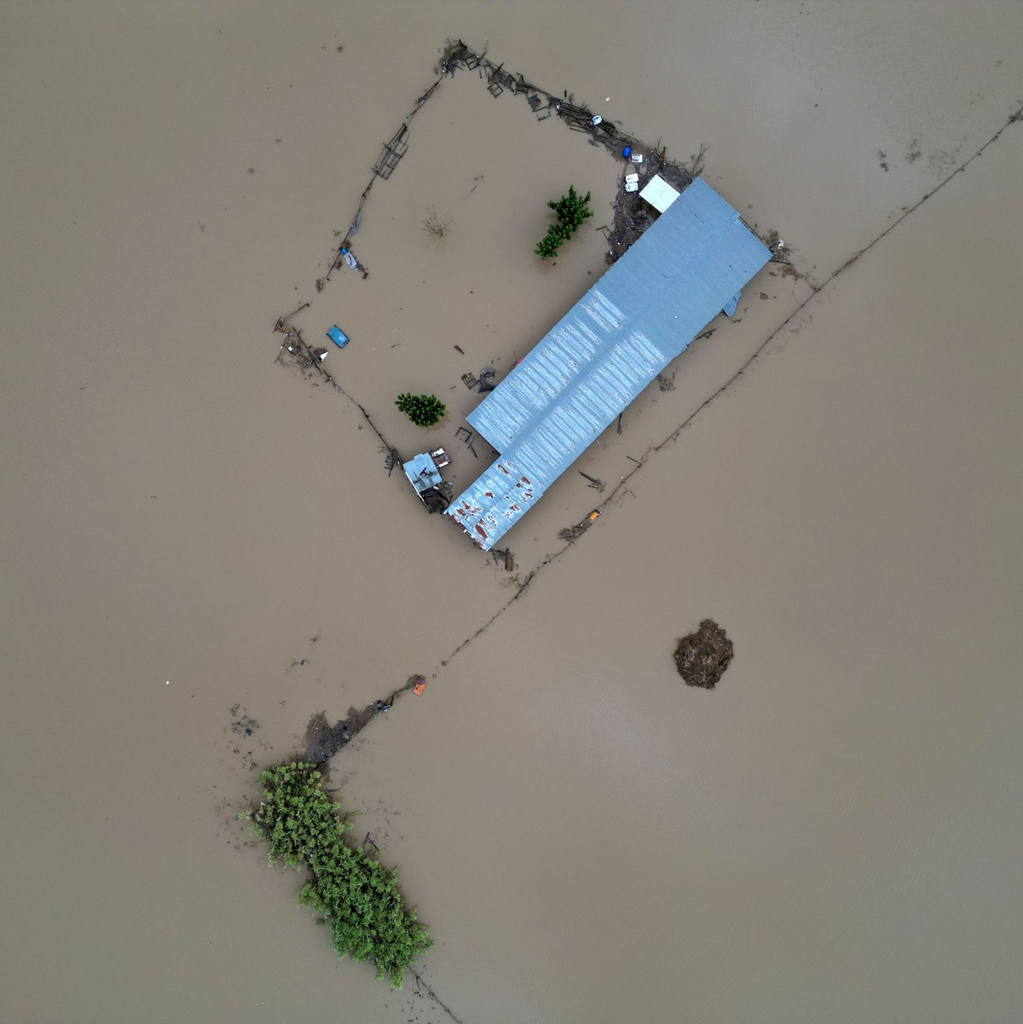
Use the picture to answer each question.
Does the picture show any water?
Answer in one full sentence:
Yes, water shows up in the scene.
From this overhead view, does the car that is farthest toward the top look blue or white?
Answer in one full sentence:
The car that is farthest toward the top is blue.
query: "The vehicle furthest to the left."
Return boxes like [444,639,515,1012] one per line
[326,324,350,348]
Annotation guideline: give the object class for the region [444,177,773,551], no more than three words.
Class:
barn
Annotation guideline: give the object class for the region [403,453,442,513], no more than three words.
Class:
shed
